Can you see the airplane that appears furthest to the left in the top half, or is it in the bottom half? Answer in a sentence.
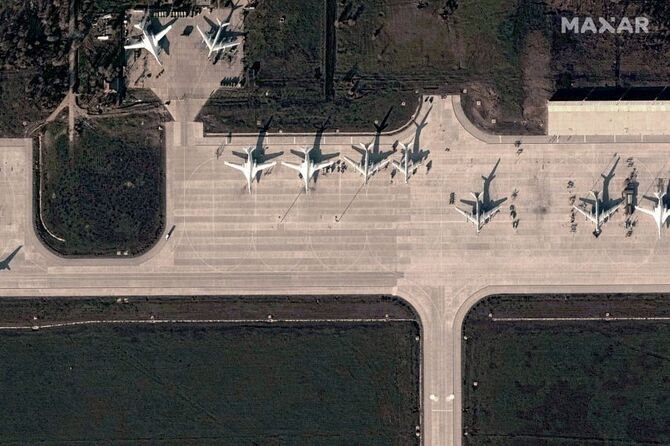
The top half of the photo is where the airplane that appears furthest to the left is.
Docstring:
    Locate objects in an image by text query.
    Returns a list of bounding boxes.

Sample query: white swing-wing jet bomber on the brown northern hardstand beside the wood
[123,20,171,65]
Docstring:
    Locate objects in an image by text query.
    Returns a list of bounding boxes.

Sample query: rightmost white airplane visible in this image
[634,188,670,237]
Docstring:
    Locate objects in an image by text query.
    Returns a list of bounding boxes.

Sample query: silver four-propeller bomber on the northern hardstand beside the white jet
[197,17,241,59]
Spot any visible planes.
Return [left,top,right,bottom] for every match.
[392,141,421,184]
[224,144,276,192]
[197,17,241,59]
[123,20,171,65]
[573,188,620,232]
[634,188,670,237]
[344,141,391,184]
[454,189,501,233]
[281,143,333,192]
